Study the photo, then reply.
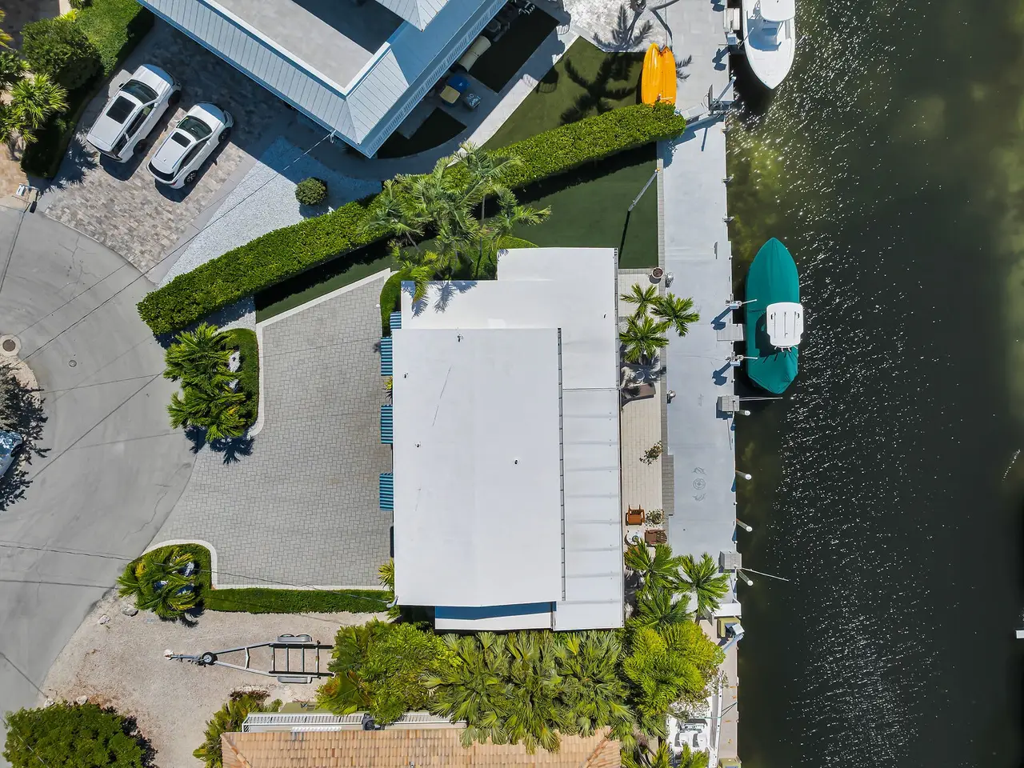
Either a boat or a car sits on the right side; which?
boat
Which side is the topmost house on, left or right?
left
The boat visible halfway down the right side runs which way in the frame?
from top to bottom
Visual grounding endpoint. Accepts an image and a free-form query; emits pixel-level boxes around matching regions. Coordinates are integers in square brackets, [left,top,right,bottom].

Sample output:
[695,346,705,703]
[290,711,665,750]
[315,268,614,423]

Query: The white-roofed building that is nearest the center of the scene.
[380,248,627,631]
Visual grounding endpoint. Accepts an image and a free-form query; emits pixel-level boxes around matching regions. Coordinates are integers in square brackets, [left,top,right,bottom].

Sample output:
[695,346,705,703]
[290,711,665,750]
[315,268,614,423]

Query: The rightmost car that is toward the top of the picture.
[149,101,233,194]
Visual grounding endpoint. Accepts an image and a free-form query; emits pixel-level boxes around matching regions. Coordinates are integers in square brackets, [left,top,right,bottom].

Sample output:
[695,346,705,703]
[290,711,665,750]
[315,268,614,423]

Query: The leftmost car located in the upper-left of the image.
[92,61,183,167]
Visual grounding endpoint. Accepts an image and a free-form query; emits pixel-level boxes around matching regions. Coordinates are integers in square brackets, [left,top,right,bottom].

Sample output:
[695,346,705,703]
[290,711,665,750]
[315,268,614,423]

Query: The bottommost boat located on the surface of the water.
[744,238,803,393]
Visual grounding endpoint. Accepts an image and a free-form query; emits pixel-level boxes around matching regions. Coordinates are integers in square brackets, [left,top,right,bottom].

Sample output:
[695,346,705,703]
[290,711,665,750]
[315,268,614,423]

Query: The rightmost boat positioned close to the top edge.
[741,0,801,87]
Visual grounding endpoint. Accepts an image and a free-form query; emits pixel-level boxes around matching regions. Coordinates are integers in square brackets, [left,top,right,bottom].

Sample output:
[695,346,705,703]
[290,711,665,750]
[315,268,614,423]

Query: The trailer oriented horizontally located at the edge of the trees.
[165,634,335,689]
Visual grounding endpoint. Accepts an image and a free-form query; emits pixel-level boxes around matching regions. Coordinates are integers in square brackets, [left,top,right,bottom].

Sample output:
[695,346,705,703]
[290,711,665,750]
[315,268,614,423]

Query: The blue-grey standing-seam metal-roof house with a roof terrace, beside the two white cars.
[129,0,509,159]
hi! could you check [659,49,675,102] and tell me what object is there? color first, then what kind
orange boat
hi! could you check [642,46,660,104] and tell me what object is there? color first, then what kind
orange boat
